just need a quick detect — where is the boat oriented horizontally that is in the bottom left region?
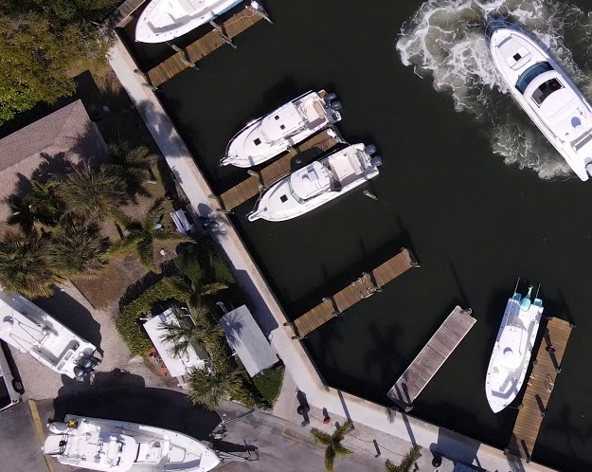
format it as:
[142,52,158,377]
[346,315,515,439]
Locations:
[37,416,219,472]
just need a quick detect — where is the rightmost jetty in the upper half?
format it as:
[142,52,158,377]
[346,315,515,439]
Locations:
[210,123,343,218]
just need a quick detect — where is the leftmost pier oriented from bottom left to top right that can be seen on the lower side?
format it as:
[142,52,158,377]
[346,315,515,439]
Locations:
[283,247,422,343]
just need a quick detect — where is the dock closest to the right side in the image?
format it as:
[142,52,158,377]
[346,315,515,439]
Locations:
[501,316,577,464]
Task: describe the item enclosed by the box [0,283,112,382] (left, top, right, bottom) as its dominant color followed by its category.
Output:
white boat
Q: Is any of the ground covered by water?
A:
Yes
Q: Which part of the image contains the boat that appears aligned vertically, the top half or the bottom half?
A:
bottom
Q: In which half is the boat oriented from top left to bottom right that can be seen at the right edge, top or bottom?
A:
top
